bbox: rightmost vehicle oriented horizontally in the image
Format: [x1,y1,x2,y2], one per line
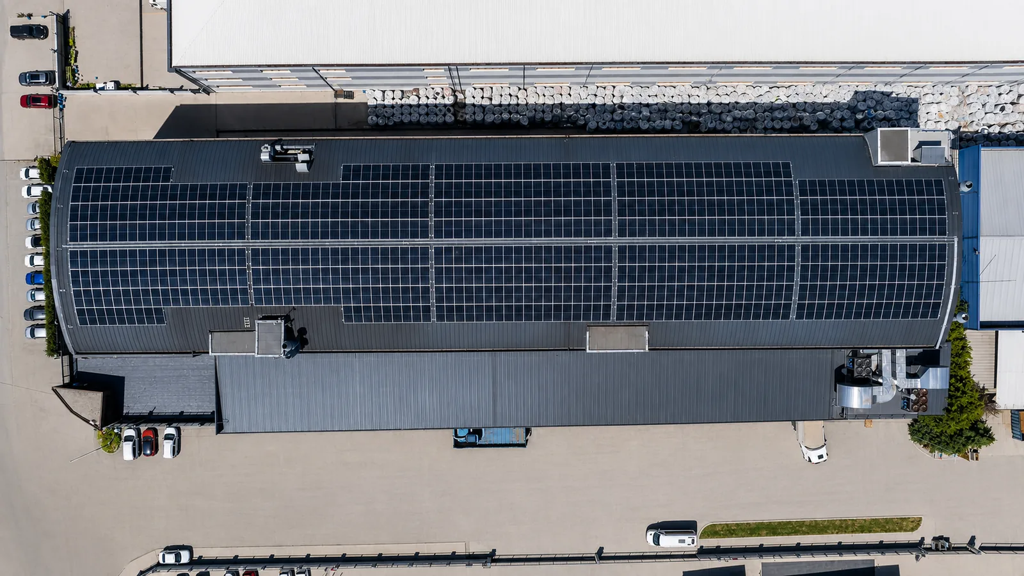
[646,531,698,550]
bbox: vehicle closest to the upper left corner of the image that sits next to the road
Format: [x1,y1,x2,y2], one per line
[10,23,50,41]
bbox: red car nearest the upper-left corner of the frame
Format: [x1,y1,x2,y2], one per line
[22,93,56,109]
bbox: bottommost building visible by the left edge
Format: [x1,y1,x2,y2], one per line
[51,384,116,429]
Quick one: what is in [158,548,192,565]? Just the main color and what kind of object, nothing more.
white car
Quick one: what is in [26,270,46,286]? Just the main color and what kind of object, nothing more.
blue car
